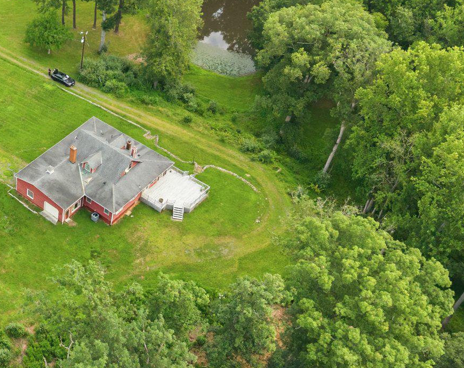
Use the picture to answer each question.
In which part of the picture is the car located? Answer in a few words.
top left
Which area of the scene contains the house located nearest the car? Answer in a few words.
left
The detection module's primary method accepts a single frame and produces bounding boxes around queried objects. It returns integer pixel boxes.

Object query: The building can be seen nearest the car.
[11,116,175,228]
